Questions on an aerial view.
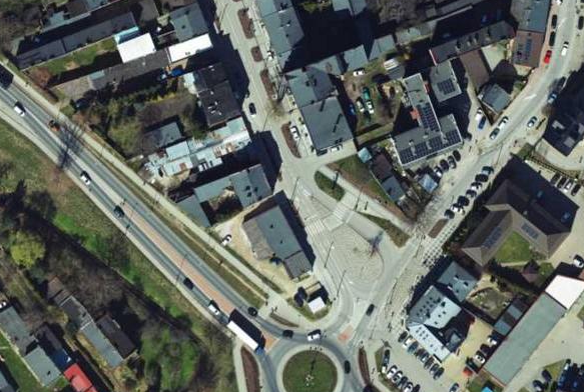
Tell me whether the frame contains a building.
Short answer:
Yes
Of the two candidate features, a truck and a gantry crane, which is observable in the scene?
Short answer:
truck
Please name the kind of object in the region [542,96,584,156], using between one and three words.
house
